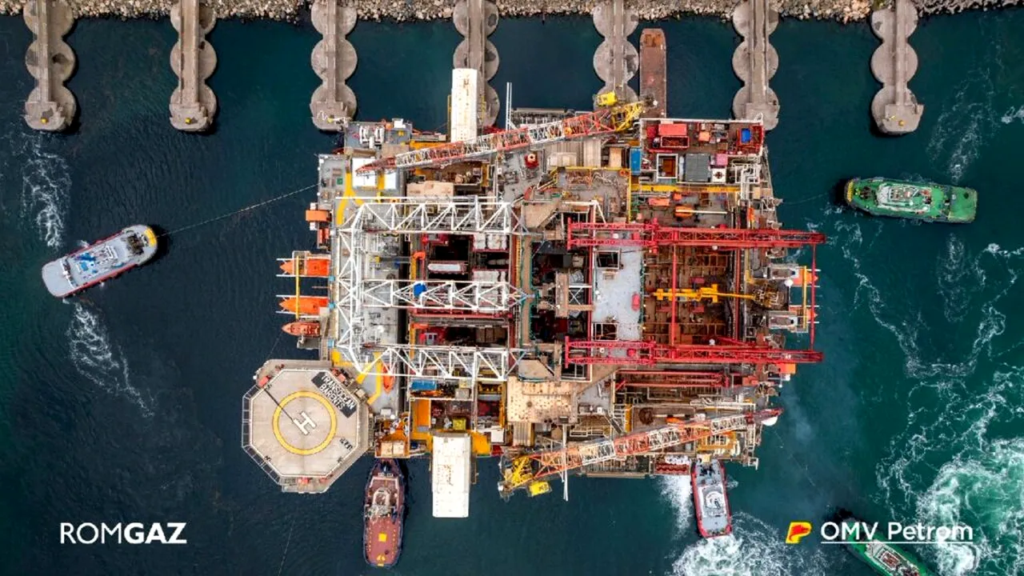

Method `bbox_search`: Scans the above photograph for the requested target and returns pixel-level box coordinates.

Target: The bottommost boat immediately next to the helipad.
[363,458,408,568]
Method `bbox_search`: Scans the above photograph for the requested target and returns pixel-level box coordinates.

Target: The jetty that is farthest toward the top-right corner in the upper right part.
[864,0,924,137]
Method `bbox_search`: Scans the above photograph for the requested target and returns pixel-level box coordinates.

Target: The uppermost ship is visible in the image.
[638,28,667,120]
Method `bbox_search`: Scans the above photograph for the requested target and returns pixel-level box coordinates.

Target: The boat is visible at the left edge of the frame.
[41,227,158,300]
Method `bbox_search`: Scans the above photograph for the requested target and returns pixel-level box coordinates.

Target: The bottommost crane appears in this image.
[497,407,784,499]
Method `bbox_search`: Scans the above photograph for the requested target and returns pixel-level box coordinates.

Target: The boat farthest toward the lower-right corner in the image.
[843,516,948,576]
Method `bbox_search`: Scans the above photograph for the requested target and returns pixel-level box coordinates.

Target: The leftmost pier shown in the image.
[24,0,84,133]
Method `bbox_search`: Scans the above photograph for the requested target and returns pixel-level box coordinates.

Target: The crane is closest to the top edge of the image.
[357,88,650,174]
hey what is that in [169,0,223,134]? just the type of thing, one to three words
pier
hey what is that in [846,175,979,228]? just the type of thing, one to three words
boat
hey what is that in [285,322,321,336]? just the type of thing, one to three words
boat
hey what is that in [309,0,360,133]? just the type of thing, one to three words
pier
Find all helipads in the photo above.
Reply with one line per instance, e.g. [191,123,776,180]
[242,359,372,491]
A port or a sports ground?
port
